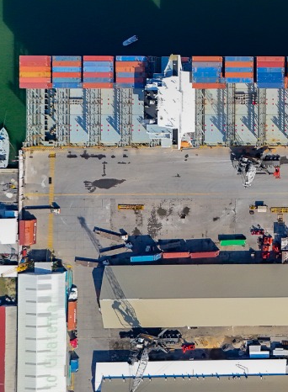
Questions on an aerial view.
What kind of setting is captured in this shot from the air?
port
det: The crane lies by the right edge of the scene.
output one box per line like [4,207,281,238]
[230,146,280,190]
